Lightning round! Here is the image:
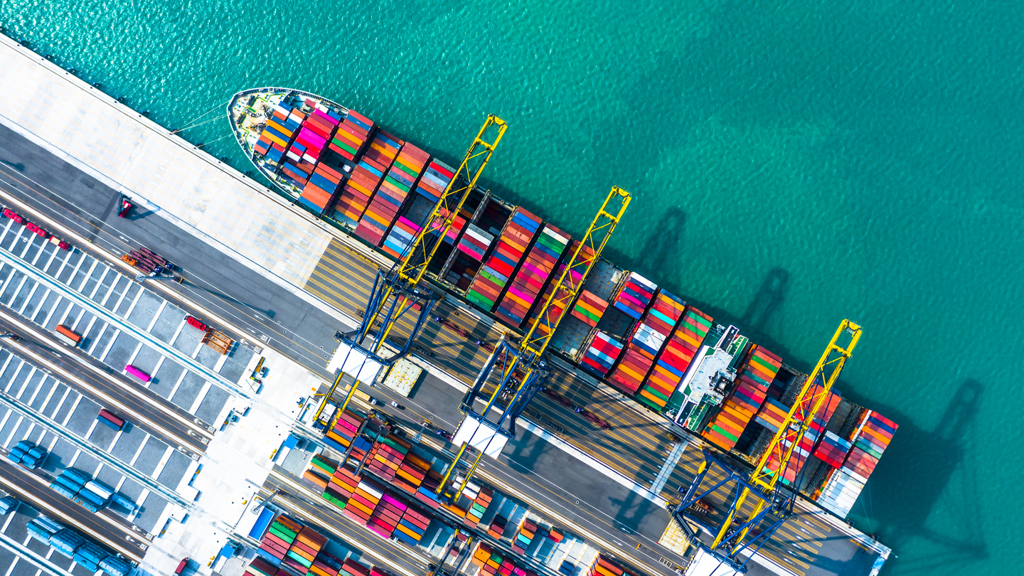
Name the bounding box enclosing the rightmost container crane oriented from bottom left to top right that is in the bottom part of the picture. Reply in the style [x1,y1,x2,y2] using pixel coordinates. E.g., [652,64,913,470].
[661,320,862,576]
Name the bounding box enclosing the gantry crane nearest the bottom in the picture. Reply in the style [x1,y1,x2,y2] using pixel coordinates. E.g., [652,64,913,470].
[428,518,475,576]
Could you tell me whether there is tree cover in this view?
No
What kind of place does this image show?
port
